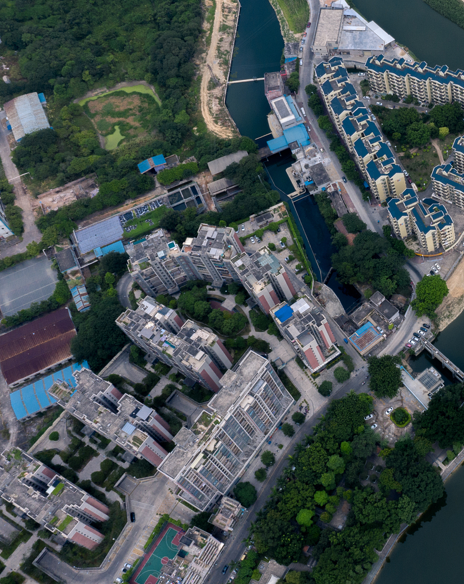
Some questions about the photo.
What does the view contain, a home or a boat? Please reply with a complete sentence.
It is a home that can be seen here.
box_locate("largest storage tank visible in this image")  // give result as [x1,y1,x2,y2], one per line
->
[167,182,206,212]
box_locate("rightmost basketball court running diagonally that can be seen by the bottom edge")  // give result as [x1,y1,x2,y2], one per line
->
[132,523,184,584]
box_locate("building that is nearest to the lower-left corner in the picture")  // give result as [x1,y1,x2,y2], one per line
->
[0,444,119,553]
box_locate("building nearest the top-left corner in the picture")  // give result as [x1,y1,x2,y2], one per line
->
[3,92,49,130]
